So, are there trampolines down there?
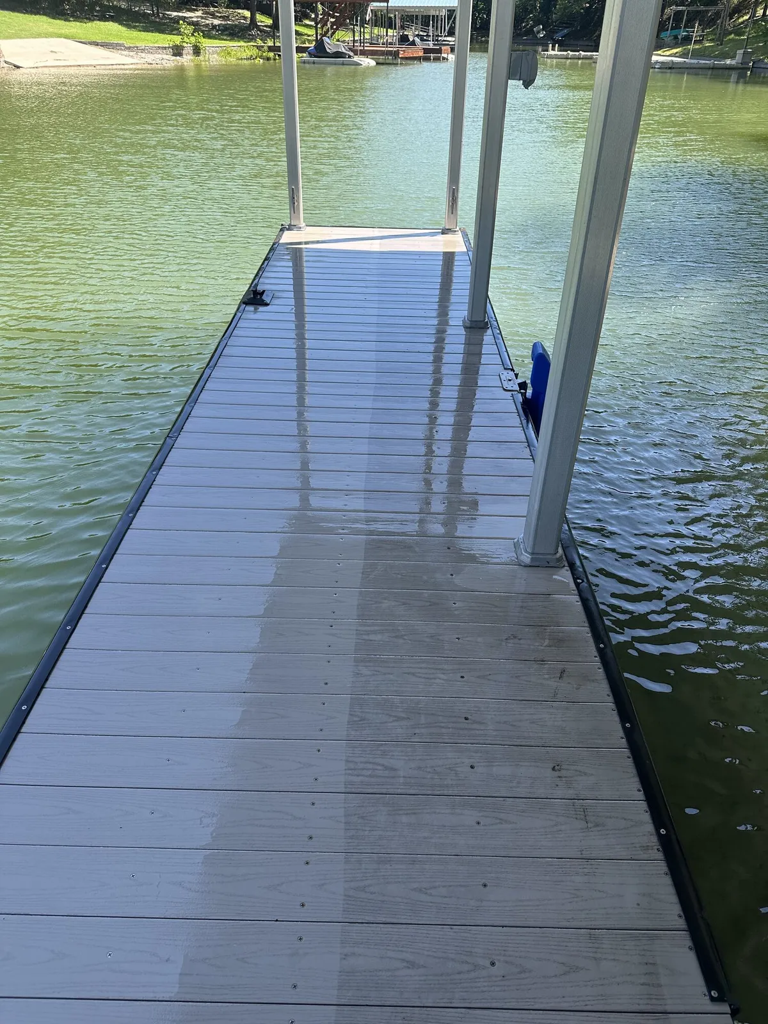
No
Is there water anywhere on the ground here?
Yes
